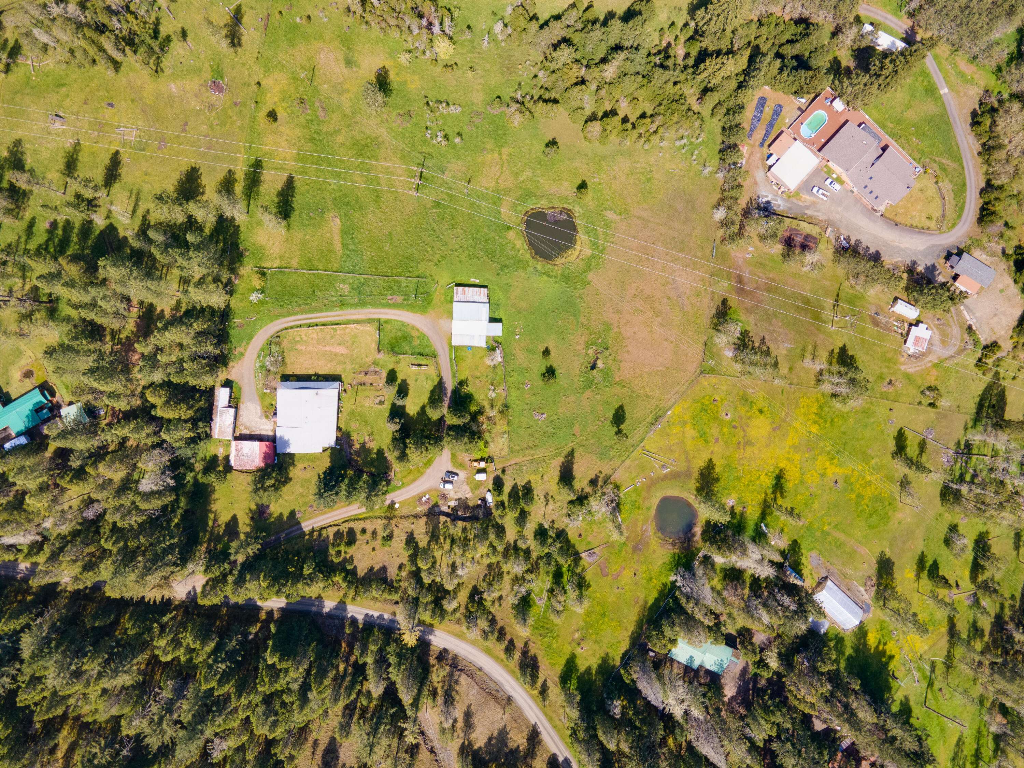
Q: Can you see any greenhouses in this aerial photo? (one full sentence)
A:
Yes, I can see a greenhouse in this picture.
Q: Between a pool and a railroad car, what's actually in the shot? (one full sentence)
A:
Of the two, only a pool appears.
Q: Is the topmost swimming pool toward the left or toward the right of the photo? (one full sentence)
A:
The topmost swimming pool sits on the right side.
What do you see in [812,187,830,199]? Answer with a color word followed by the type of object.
white vehicle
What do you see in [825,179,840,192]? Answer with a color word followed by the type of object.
white vehicle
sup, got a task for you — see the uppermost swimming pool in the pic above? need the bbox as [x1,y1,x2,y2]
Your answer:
[800,110,828,139]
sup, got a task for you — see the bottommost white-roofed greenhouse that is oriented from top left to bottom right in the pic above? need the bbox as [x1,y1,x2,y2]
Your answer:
[811,577,863,629]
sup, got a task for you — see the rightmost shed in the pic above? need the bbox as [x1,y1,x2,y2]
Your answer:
[944,252,996,294]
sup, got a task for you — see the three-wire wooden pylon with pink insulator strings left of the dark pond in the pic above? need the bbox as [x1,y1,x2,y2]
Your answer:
[407,166,423,203]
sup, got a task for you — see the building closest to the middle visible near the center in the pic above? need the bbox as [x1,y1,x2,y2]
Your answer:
[452,287,502,346]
